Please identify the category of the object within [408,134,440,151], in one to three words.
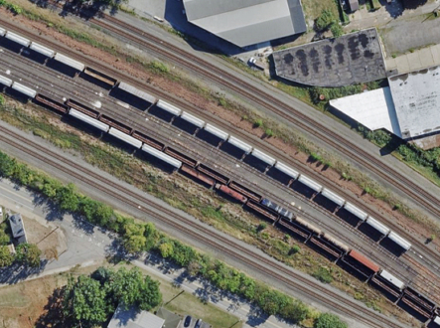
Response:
shed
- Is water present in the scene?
No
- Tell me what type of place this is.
rail yard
